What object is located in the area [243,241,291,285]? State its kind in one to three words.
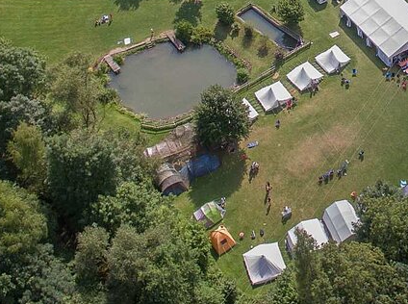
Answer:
tent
